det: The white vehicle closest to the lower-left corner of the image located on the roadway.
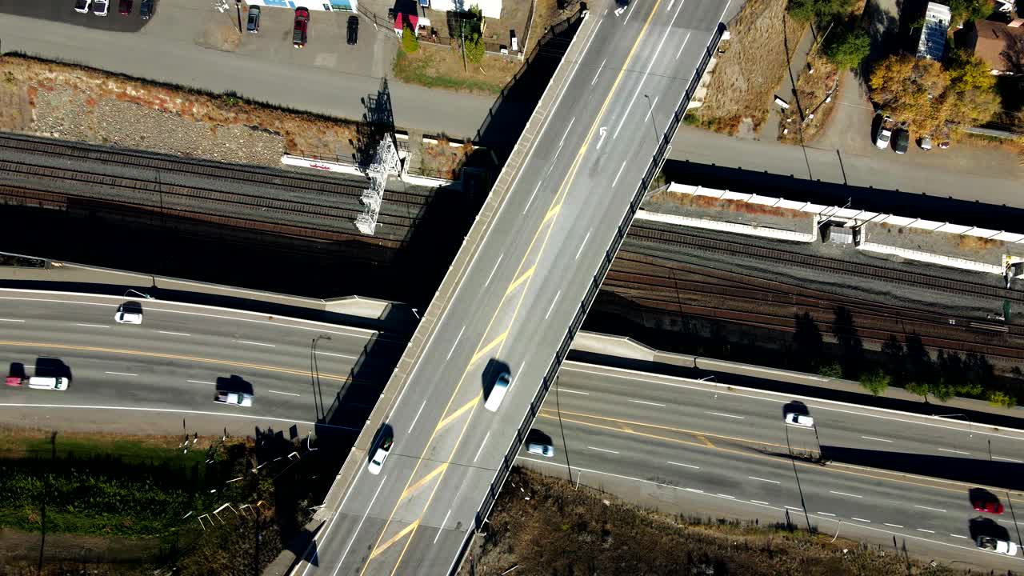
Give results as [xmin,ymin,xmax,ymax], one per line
[25,375,73,392]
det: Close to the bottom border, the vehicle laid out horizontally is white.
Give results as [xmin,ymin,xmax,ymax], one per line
[974,535,1017,555]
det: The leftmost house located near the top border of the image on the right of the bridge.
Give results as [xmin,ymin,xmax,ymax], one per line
[911,2,951,65]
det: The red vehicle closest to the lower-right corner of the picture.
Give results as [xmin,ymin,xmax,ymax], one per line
[970,499,1003,516]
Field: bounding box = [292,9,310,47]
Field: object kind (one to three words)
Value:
vehicle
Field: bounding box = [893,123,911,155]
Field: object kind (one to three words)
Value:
car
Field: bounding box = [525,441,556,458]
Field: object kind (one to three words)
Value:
car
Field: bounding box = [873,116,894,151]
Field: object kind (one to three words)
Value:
truck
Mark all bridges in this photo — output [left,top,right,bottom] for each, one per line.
[318,0,725,532]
